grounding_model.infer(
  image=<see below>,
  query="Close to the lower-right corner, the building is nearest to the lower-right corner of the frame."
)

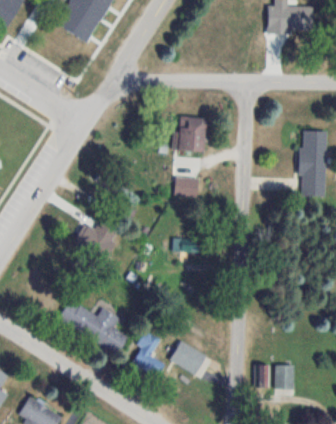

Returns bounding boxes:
[274,366,296,390]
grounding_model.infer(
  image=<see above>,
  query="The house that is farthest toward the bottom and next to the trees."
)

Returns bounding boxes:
[20,398,62,424]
